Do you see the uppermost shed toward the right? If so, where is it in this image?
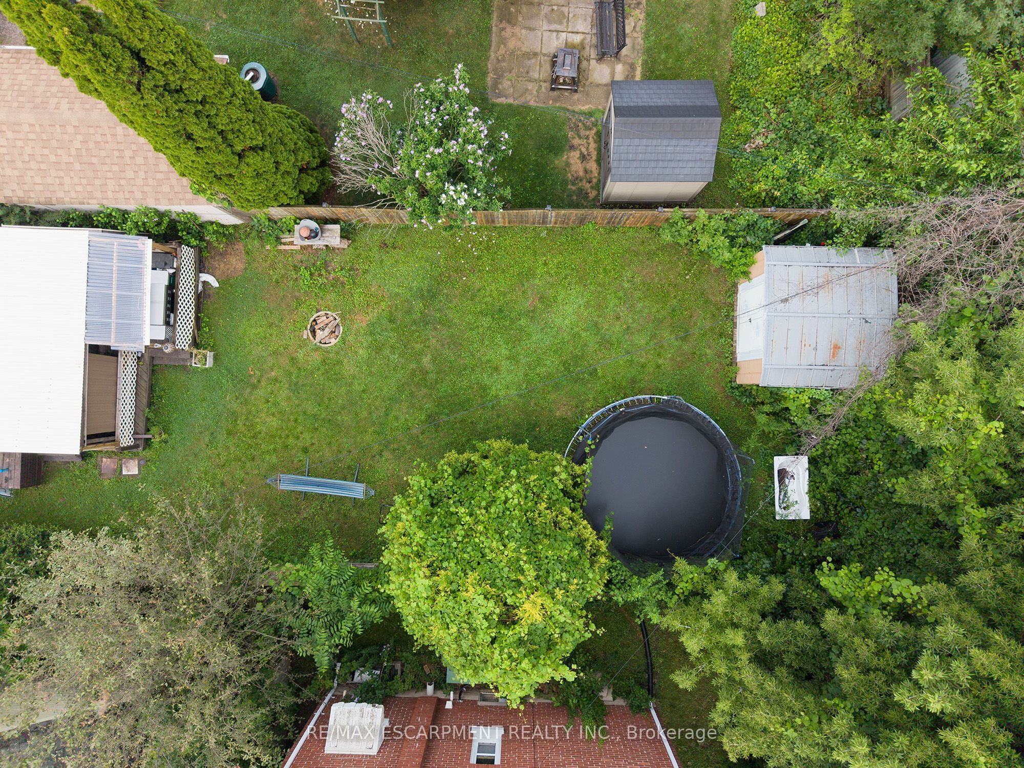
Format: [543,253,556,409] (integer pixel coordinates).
[599,79,724,204]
